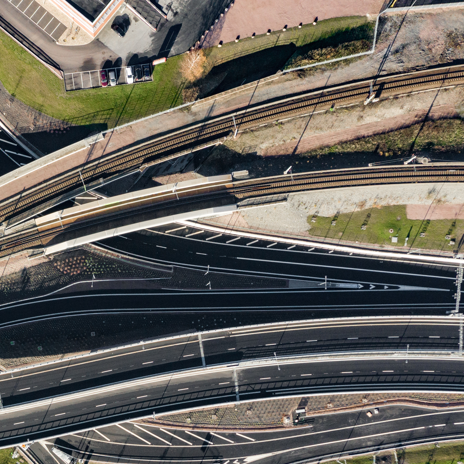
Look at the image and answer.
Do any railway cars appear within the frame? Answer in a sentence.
No, the picture doesn't show any railway car.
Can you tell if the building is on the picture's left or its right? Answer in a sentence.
The building is on the left side of the image.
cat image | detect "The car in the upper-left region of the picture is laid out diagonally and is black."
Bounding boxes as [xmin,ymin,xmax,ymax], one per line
[111,22,126,37]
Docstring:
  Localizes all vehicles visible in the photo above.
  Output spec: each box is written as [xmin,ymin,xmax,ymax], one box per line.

[101,69,108,86]
[111,22,126,37]
[143,64,151,79]
[134,64,142,80]
[108,70,116,86]
[126,66,133,82]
